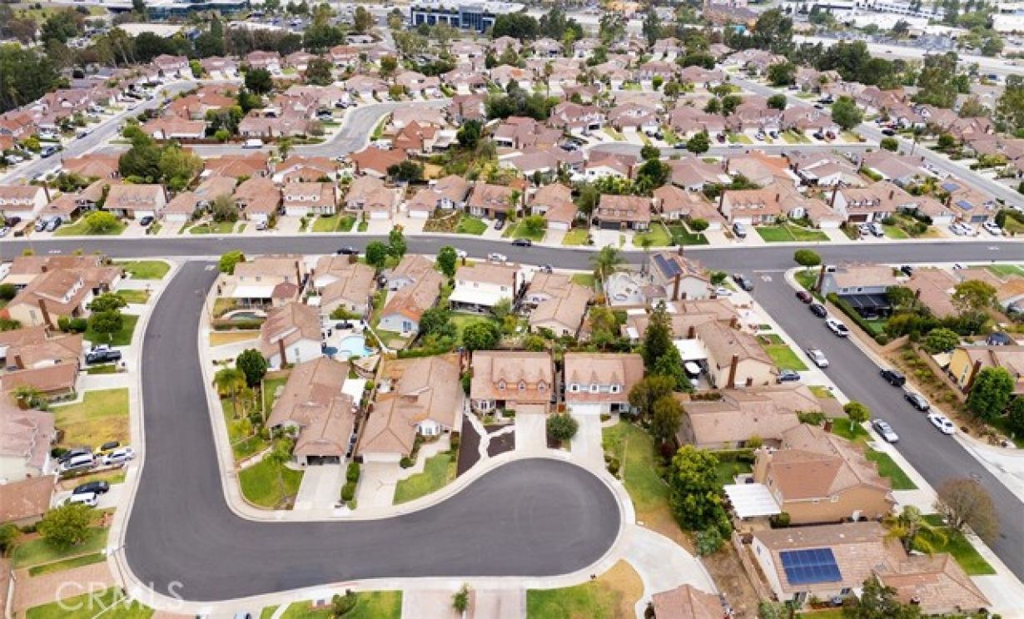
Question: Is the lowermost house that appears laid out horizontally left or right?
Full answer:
It is on the right.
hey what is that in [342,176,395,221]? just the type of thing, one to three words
house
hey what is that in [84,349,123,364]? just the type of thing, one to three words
vehicle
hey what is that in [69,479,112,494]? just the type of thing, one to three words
car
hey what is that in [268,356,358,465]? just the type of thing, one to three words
house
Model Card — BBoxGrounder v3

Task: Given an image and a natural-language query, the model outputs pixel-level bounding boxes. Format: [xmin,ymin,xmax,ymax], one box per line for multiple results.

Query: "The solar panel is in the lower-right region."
[782,552,838,583]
